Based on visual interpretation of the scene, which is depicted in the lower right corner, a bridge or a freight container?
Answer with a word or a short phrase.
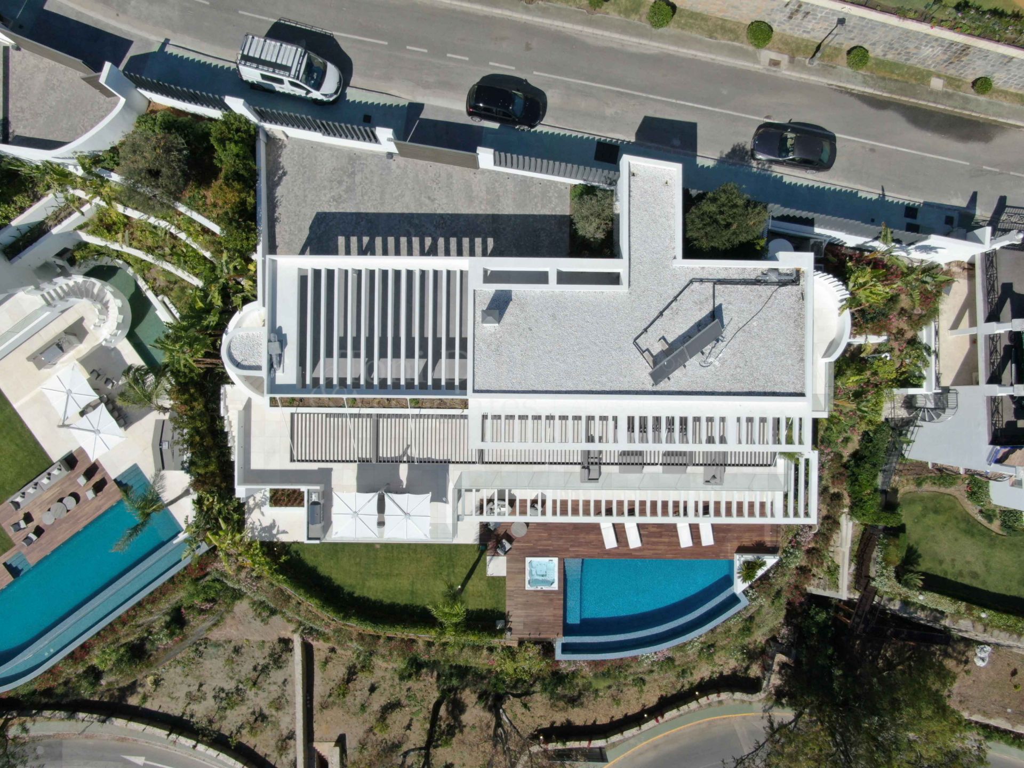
bridge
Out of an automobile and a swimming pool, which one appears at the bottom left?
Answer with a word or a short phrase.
swimming pool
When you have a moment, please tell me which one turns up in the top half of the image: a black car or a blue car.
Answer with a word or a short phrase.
black car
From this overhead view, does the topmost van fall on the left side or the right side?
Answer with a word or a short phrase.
left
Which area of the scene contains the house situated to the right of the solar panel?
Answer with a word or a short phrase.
right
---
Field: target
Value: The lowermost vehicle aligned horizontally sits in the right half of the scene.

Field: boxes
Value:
[751,122,845,172]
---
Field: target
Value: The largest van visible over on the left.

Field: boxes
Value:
[226,32,341,102]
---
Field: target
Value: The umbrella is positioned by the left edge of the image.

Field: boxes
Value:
[41,364,128,461]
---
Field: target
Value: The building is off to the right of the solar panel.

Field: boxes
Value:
[945,257,1024,404]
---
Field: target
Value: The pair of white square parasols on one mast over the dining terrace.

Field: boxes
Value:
[332,478,431,539]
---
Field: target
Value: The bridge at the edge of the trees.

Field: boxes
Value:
[837,589,952,651]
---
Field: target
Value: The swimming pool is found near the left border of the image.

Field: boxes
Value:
[0,465,216,696]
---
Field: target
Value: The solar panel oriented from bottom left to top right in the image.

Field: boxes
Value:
[639,319,723,385]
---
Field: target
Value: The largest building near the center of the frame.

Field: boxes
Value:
[222,156,851,451]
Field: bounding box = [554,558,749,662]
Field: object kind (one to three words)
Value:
swimming pool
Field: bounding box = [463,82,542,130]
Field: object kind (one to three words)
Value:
car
